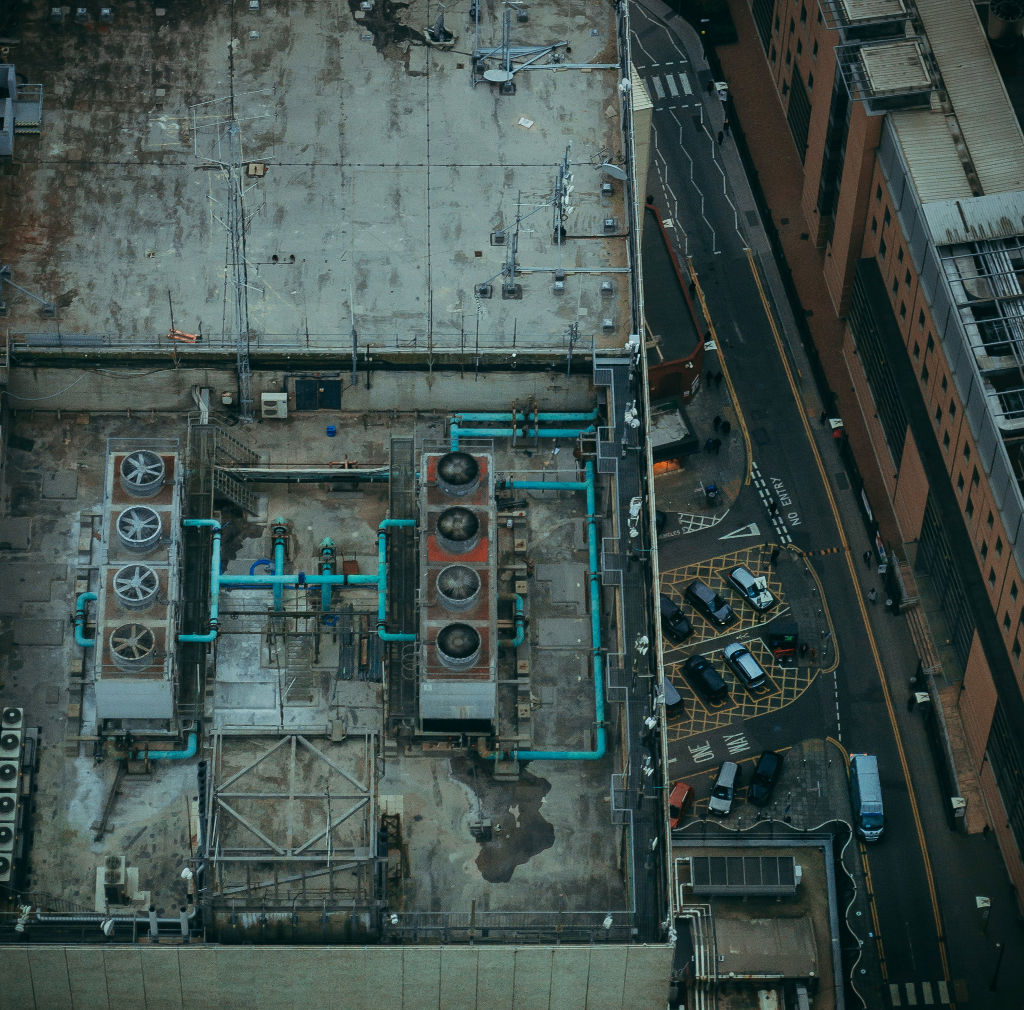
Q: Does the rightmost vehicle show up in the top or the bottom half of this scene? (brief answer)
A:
bottom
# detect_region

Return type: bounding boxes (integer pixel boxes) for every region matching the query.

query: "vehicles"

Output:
[722,644,769,693]
[851,753,887,840]
[683,655,731,704]
[661,590,693,642]
[656,506,678,533]
[708,762,741,816]
[684,577,735,628]
[728,566,774,612]
[665,672,687,716]
[672,781,695,829]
